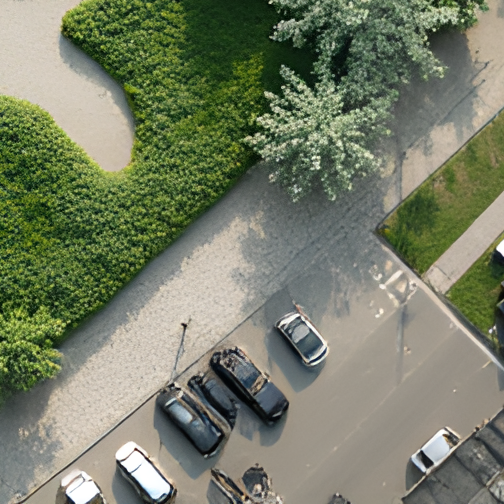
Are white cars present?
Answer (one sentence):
Yes, there's a white car here.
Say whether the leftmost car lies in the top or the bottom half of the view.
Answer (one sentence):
Seen from above, the leftmost car lies in the bottom half of the view.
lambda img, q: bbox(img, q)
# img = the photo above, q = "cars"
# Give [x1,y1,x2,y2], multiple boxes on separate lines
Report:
[116,435,177,504]
[406,425,460,476]
[67,466,117,504]
[274,306,330,371]
[212,341,287,429]
[158,379,230,463]
[188,370,240,427]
